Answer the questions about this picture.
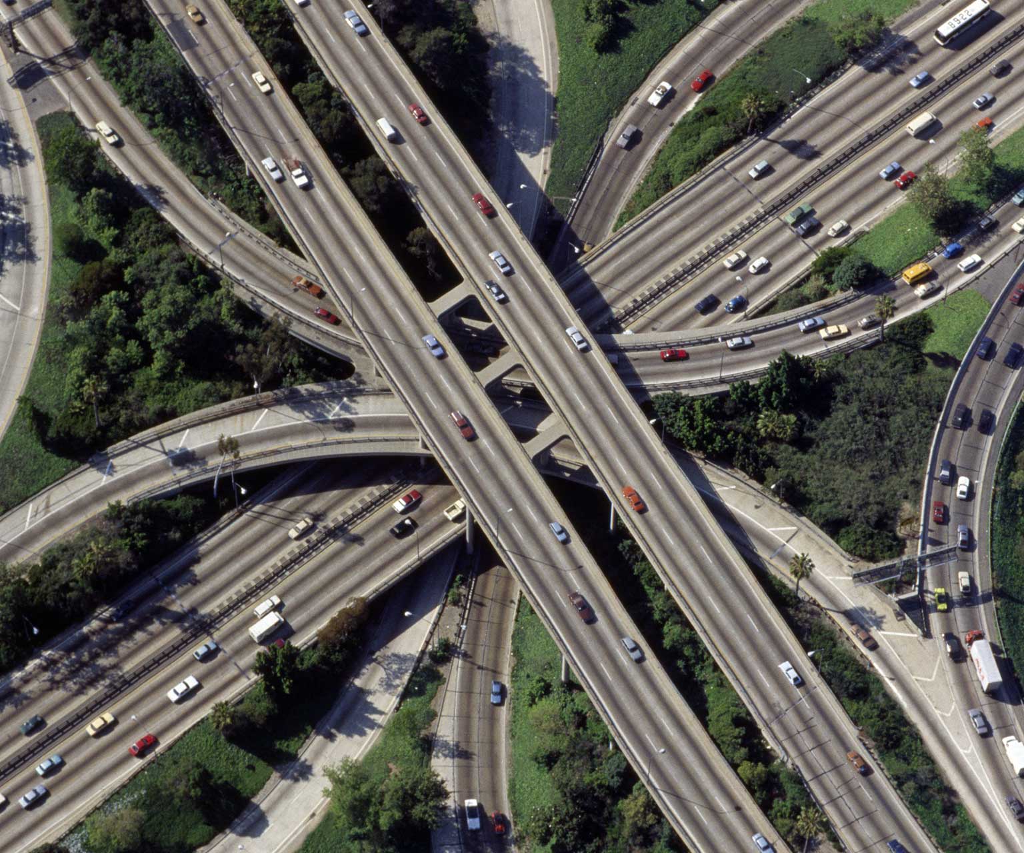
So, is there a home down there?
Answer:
No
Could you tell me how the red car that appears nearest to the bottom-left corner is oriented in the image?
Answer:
diagonally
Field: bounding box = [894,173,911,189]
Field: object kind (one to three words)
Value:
car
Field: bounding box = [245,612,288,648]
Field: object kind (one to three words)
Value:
truck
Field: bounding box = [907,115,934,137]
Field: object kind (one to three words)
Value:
vehicle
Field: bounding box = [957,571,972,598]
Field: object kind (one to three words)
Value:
car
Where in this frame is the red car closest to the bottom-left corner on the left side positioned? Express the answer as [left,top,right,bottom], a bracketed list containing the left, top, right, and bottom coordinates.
[127,734,157,757]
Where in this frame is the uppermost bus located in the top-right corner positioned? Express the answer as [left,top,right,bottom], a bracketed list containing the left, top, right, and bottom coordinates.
[934,0,990,47]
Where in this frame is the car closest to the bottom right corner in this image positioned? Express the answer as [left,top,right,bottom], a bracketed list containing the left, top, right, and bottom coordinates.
[1003,795,1023,821]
